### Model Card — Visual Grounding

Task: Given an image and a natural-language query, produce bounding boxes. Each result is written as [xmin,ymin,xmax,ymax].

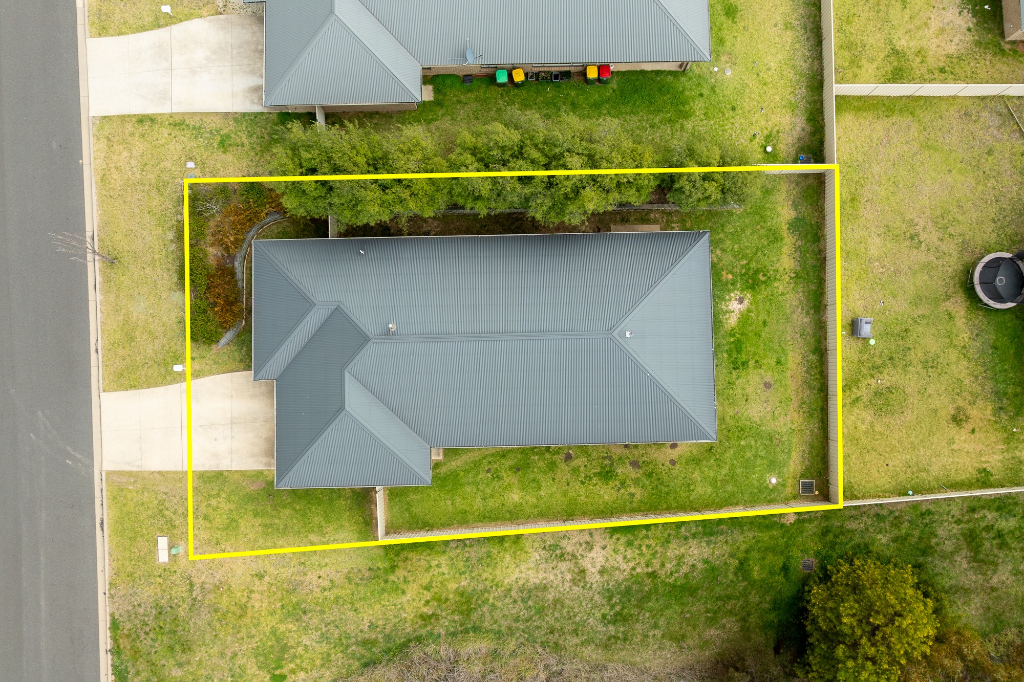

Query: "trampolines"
[963,251,1024,312]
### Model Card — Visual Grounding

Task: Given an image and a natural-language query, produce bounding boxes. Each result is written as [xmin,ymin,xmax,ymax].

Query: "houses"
[259,0,711,113]
[1002,0,1024,40]
[253,231,717,488]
